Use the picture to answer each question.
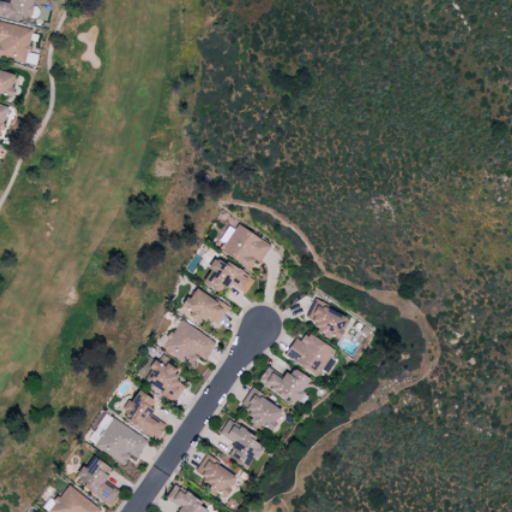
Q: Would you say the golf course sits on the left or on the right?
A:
left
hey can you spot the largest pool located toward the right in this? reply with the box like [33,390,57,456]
[338,337,358,356]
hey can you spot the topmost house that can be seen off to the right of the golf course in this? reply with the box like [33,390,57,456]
[222,224,270,268]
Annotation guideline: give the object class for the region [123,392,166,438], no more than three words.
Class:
house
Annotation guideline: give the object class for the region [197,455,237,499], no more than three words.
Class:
house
